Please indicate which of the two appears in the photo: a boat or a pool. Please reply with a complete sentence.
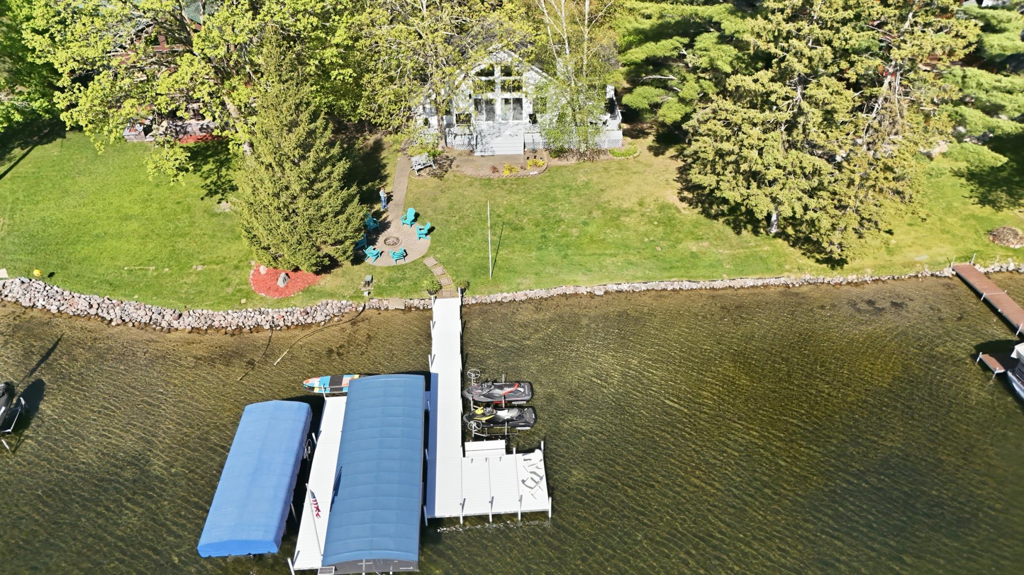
I can see a boat in this picture.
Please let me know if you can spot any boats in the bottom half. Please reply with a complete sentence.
Yes, I can see a boat in the bottom half.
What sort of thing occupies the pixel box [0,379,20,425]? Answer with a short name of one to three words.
boat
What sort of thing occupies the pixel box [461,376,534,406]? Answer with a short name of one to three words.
boat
